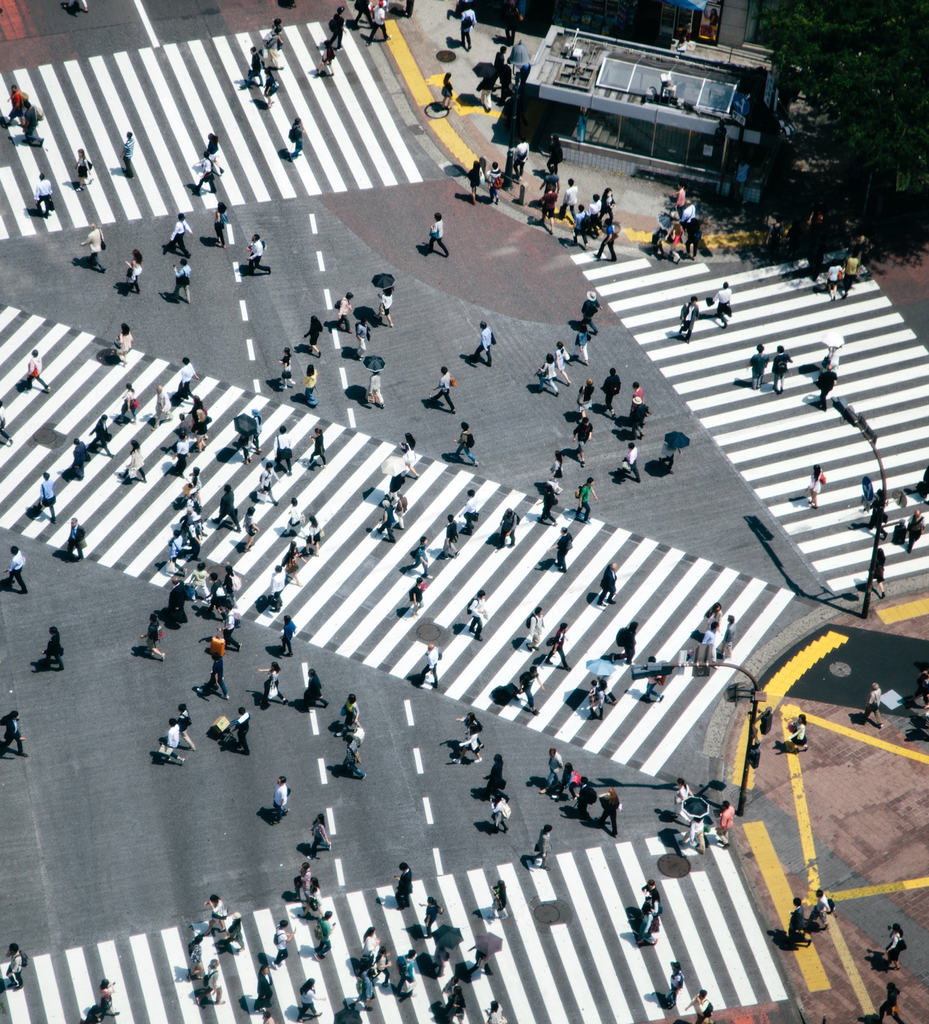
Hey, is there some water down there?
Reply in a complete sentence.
No, water can't be seen anywhere here.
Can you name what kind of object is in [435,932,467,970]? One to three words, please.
umbrella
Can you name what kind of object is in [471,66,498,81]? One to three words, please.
umbrella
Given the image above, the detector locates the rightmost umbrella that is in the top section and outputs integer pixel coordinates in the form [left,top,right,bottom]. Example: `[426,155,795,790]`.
[821,335,846,351]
